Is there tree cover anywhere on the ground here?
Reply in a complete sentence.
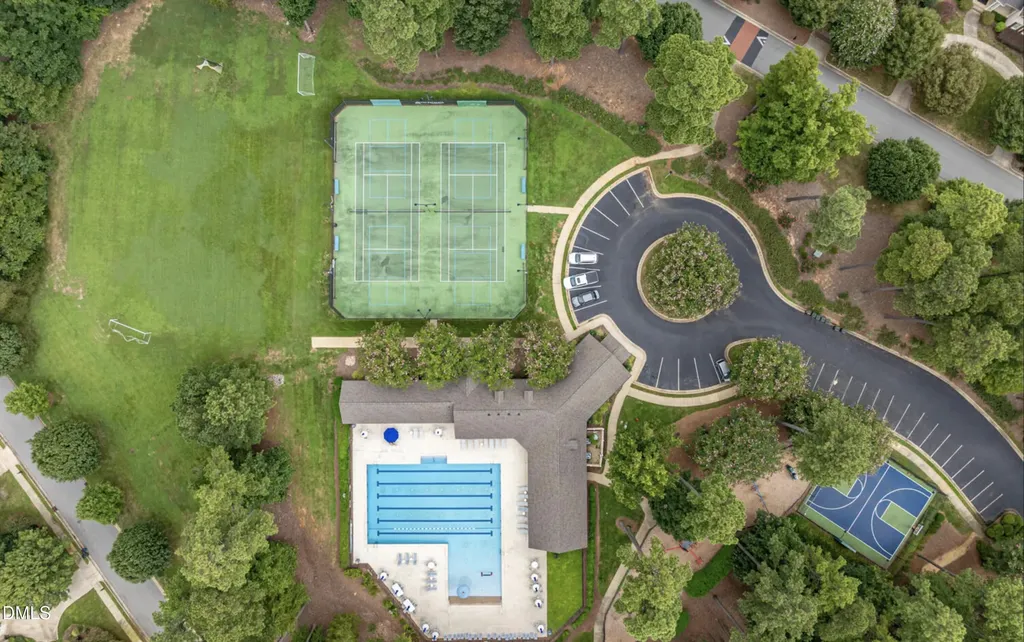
Yes, tree cover can be seen from above here.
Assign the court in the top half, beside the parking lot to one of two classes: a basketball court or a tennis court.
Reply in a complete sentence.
I'd say the court in the top half, beside the parking lot is a tennis court.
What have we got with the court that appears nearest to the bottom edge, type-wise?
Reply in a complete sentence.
It turns out the court that appears nearest to the bottom edge is a basketball court.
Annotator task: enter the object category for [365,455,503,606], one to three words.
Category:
swimming pool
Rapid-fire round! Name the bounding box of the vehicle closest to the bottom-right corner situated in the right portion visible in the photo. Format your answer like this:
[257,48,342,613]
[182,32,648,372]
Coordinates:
[715,357,733,384]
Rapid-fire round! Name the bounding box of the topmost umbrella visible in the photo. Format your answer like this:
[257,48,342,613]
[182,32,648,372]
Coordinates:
[384,427,399,442]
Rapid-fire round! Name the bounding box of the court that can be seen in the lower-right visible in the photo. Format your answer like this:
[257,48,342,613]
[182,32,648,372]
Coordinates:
[797,453,935,568]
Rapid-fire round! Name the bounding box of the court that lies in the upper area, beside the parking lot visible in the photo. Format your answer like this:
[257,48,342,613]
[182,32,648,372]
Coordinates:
[333,105,526,318]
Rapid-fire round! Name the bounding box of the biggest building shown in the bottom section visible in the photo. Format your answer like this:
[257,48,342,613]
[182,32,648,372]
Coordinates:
[339,333,632,553]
